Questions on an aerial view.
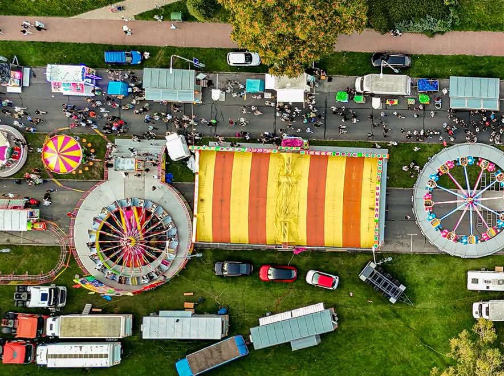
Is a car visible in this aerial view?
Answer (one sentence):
Yes, a car can be made out from above.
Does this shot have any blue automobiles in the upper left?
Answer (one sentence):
Yes, there is a blue automobile in the upper left.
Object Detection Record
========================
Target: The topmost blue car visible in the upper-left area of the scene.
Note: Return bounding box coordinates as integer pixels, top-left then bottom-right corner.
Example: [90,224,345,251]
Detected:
[103,49,145,66]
